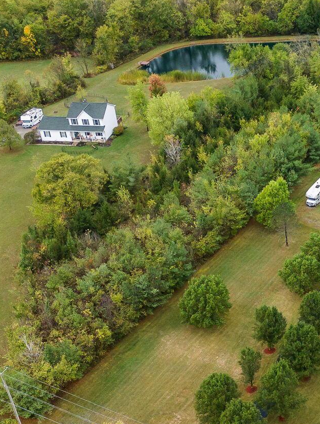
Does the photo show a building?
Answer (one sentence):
Yes, I can see a building in this picture.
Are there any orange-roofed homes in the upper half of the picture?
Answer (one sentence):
No, I can find no orange-roofed home in the upper half of the picture.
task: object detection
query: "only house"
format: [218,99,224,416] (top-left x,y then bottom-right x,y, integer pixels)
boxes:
[38,102,125,143]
